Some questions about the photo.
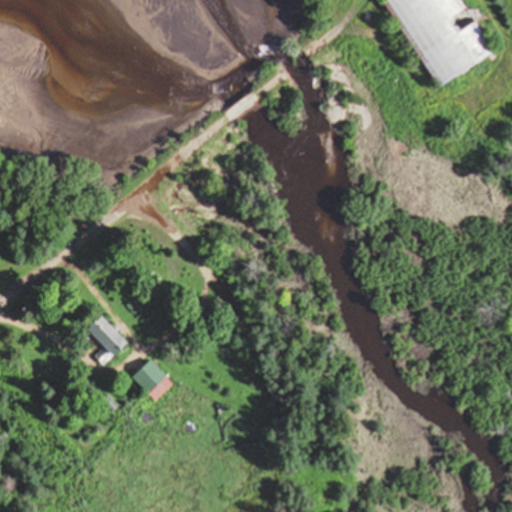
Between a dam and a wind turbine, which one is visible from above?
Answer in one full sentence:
I can see a dam in this picture.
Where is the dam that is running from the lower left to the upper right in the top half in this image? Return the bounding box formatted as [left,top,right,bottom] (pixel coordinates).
[97,70,293,228]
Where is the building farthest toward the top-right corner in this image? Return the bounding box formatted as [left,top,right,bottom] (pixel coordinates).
[386,0,498,87]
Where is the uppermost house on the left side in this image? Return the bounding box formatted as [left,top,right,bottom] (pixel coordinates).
[88,316,128,356]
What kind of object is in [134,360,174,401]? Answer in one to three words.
building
